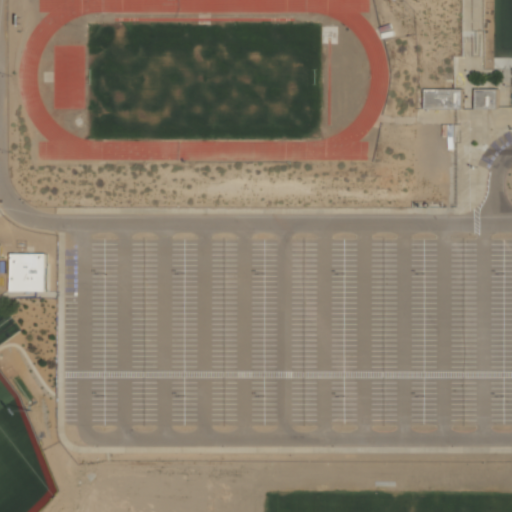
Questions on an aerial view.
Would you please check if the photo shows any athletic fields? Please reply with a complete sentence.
Yes, the picture does show an athletic field.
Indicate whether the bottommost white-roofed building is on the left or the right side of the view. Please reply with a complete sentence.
You can find the bottommost white-roofed building on the left side of the picture.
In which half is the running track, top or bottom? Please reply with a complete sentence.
Seen from above, the running track lies in the top half of the view.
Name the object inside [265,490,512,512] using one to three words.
sports field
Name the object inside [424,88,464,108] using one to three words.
building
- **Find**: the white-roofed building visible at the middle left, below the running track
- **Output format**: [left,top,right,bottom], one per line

[10,254,49,292]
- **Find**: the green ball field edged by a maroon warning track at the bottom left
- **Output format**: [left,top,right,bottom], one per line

[0,368,58,512]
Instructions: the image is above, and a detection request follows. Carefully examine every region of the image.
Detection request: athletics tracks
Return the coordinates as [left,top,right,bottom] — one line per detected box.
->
[22,0,390,160]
